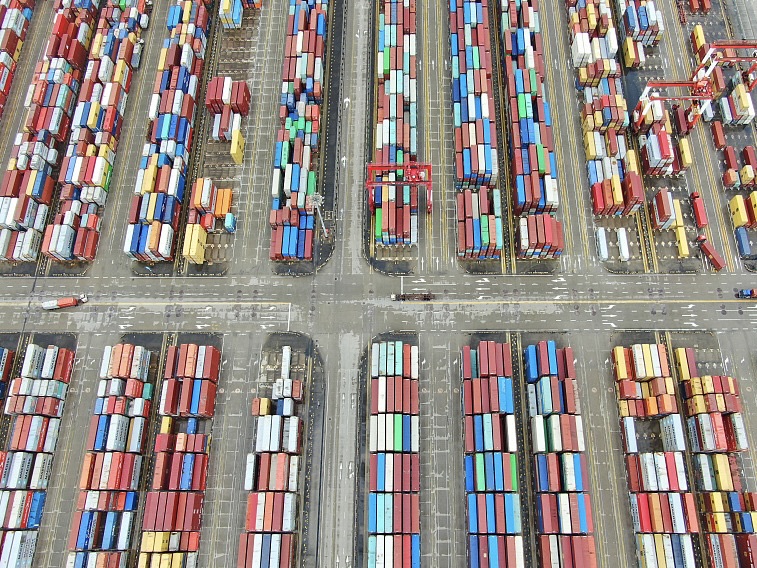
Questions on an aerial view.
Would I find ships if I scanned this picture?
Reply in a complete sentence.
No, I can't see a single ship in this photo.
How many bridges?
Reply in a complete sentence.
The photo contains no bridges.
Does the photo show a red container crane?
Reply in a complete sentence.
Yes, there is a red container crane in the image.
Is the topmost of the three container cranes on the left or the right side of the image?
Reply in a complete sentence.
The topmost of the three container cranes is on the right side of the image.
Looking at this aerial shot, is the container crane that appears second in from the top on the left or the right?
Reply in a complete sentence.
You can find the container crane that appears second in from the top on the right side of the picture.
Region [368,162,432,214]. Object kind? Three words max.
container crane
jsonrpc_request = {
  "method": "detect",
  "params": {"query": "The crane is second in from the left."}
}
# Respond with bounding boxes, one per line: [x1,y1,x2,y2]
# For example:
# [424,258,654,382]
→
[631,77,710,131]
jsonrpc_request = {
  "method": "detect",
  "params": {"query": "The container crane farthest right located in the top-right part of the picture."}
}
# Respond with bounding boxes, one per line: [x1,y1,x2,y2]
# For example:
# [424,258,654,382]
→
[690,37,757,93]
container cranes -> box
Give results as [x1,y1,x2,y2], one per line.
[690,37,757,93]
[631,77,710,131]
[368,162,432,214]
